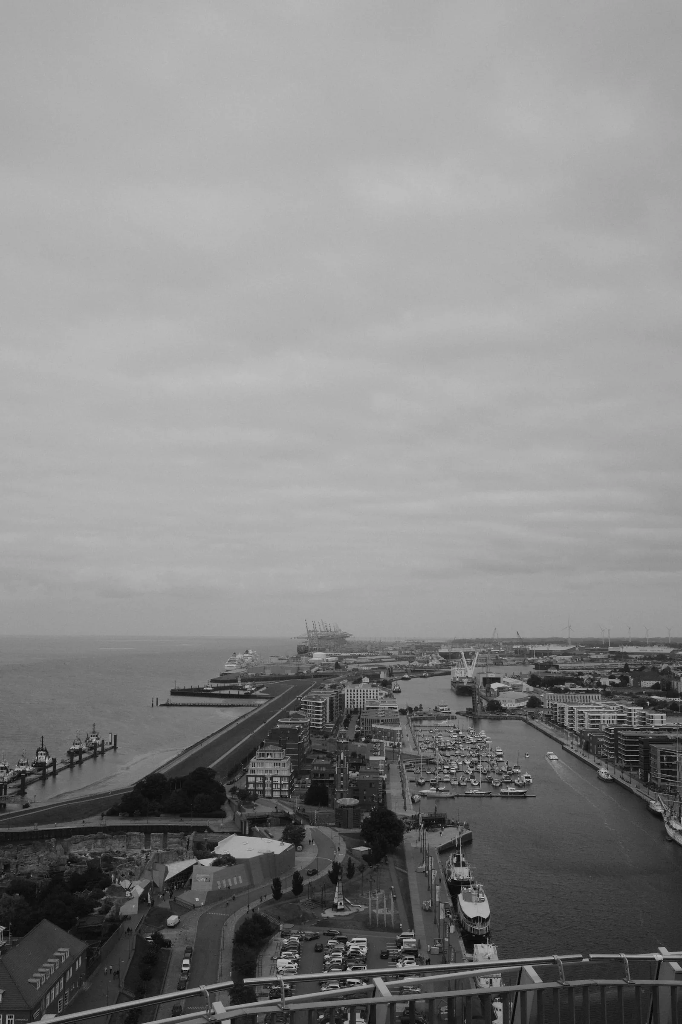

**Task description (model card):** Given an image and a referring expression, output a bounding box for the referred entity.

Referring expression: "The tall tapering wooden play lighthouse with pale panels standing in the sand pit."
[335,872,363,915]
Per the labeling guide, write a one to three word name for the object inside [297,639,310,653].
ship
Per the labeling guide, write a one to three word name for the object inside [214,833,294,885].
building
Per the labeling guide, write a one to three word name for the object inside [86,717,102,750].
boat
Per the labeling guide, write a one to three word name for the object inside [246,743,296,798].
house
